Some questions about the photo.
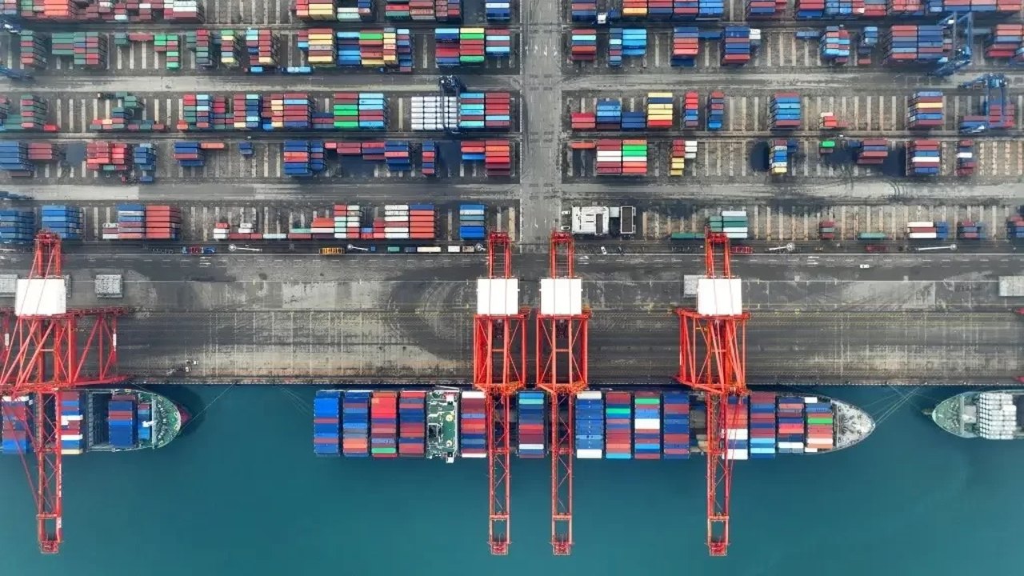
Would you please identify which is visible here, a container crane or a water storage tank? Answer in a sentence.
This aerial view contains a container crane.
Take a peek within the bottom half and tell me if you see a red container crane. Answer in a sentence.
Yes, within the bottom half there is a red container crane.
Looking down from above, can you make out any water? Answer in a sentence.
Yes, there's water in this view.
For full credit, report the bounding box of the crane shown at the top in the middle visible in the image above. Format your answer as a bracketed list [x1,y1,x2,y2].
[439,76,466,139]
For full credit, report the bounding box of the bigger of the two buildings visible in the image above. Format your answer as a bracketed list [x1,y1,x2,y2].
[571,207,609,235]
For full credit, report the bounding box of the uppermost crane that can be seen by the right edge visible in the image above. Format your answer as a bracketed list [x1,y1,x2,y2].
[925,8,975,77]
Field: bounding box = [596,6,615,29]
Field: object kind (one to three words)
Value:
vehicle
